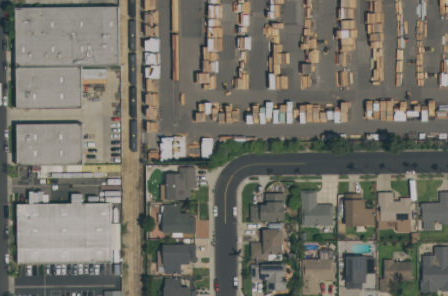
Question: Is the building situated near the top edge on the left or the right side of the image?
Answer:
left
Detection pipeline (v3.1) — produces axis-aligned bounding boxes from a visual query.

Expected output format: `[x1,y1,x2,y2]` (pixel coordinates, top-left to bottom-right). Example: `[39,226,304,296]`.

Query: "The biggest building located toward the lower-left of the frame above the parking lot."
[16,204,114,266]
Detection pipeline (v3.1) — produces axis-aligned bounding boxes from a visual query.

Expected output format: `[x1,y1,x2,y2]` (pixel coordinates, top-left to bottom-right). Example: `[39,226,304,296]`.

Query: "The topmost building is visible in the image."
[14,7,118,68]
